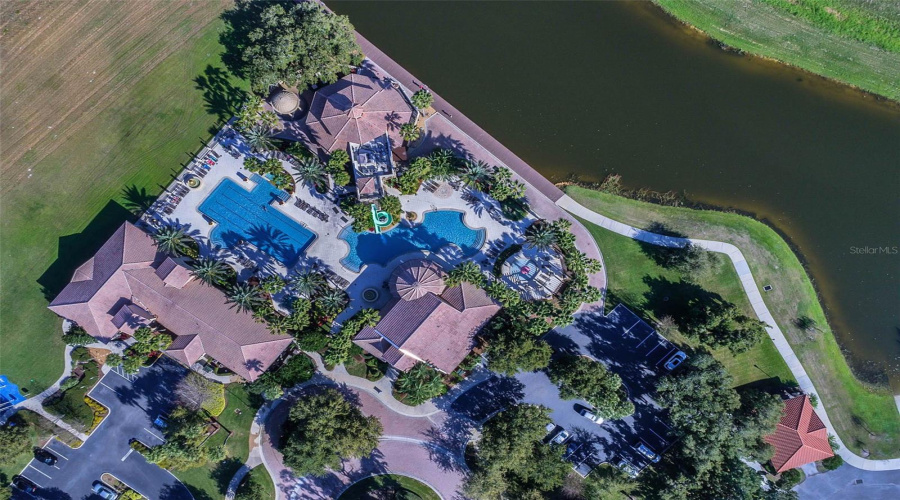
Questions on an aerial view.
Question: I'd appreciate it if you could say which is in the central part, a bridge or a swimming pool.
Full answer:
Visible in the central part is a swimming pool.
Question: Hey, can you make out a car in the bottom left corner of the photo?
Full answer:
Yes, a car shows up in the bottom left corner of the photo.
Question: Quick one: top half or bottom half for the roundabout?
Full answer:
It is in the bottom half that the roundabout appears.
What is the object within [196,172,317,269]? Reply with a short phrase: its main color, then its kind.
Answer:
blue swimming pool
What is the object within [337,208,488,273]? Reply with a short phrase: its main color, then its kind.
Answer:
blue swimming pool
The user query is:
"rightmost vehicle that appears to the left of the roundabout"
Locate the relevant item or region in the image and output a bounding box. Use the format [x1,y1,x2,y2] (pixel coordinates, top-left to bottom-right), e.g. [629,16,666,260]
[147,409,173,432]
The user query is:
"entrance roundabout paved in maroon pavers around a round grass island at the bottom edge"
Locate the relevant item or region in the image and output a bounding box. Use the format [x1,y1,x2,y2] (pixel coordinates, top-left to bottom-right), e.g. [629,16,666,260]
[261,382,468,500]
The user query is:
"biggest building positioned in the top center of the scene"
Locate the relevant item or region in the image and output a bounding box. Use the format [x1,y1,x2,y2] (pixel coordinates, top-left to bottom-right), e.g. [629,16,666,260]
[305,73,412,160]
